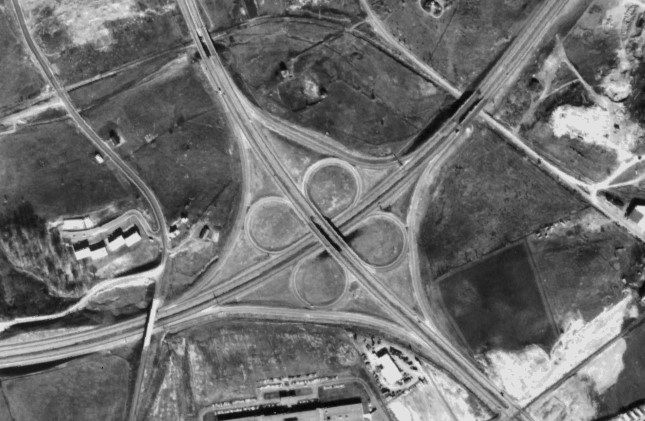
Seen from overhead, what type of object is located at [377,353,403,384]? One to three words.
building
